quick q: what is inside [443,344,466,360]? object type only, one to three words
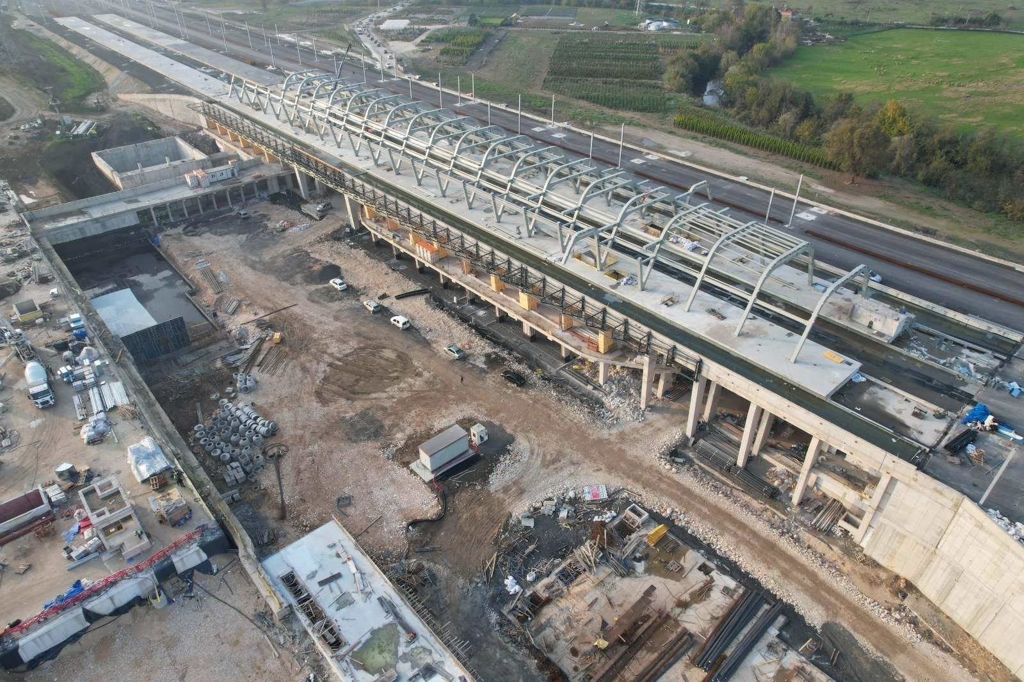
car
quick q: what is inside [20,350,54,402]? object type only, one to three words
truck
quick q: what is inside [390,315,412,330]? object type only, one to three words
vehicle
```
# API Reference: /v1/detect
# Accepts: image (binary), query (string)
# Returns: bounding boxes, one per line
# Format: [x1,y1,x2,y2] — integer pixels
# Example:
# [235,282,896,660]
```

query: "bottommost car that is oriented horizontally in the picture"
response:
[499,372,528,387]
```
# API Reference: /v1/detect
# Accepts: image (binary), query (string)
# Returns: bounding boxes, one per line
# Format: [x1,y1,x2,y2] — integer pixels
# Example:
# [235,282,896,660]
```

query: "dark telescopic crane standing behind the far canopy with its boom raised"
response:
[319,43,354,146]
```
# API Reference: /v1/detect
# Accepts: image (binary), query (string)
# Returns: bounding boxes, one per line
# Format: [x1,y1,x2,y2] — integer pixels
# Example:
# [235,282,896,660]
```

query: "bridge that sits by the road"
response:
[200,102,963,550]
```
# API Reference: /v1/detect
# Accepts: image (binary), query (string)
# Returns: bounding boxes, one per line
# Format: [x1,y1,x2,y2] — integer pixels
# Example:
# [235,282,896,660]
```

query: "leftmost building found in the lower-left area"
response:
[69,470,160,549]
